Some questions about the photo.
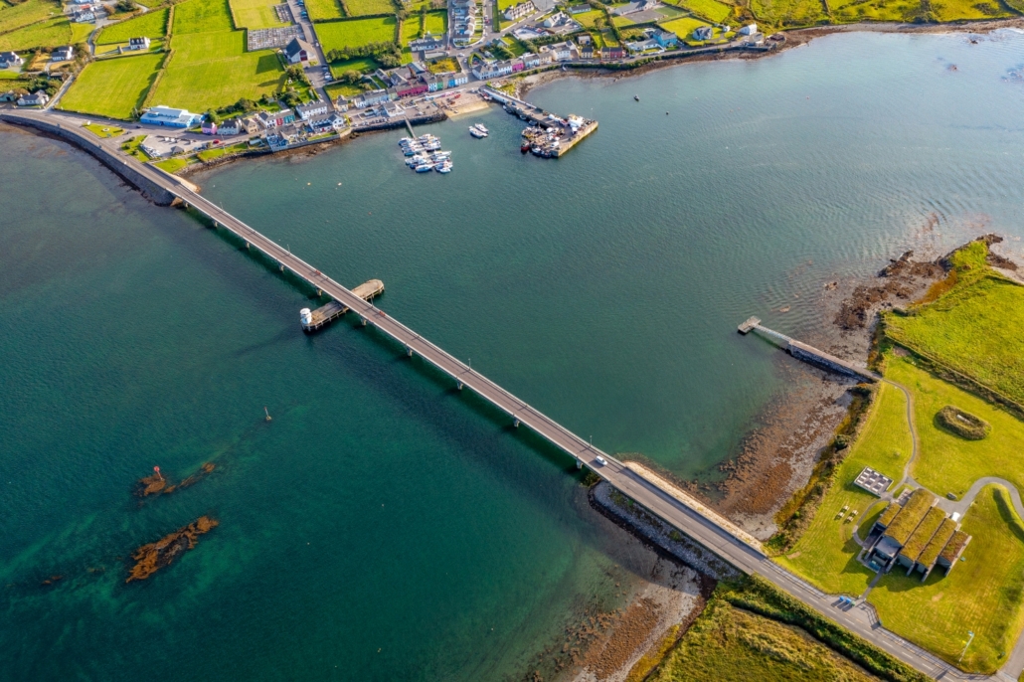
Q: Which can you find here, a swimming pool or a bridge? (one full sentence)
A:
Visible in the photo is a bridge.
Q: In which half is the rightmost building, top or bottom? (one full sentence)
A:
The rightmost building sits in the bottom half of the picture.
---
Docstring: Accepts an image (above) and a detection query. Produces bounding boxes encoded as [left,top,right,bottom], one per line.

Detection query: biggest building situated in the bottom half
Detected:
[851,491,970,585]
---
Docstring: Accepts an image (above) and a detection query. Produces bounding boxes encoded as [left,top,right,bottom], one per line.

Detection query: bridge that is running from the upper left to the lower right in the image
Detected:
[165,184,625,483]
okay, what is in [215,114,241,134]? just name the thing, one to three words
house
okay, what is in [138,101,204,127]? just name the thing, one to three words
building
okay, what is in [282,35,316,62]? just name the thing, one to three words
building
